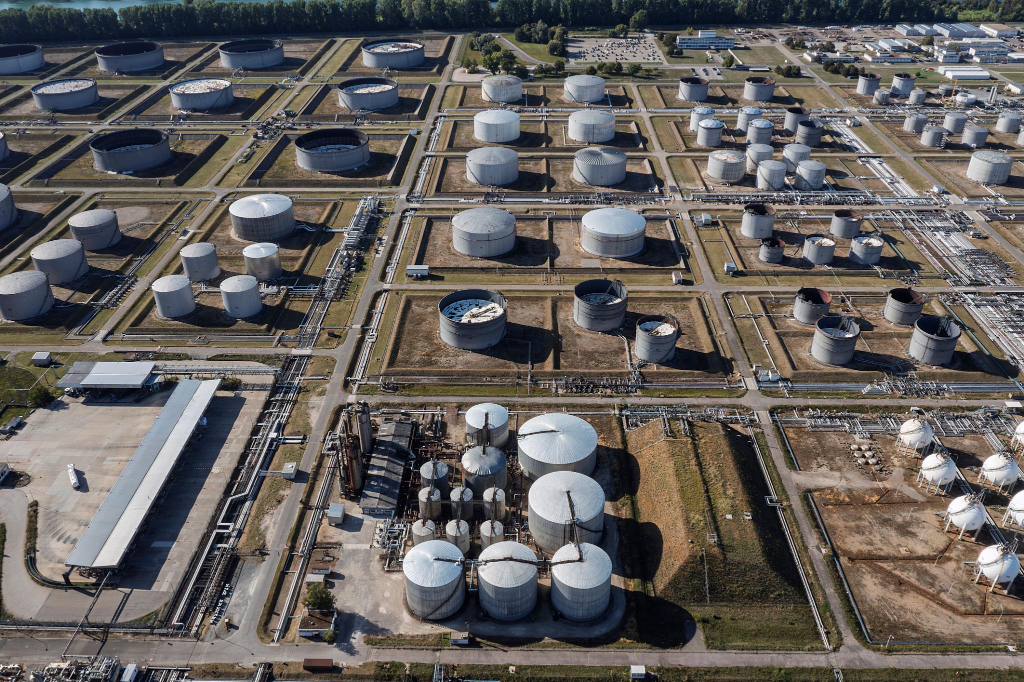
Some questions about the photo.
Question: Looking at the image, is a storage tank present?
Yes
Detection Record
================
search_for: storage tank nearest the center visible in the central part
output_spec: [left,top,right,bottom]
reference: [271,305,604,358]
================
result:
[437,290,509,350]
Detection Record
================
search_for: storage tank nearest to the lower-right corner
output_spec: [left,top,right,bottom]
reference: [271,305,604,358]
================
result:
[963,530,1019,594]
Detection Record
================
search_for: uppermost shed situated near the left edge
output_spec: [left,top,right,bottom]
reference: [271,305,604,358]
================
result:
[29,348,59,366]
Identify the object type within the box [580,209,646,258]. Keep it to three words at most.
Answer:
storage tank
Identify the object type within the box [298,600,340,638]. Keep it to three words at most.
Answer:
house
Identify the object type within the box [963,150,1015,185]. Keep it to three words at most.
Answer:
storage tank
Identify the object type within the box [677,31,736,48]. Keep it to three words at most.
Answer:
building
